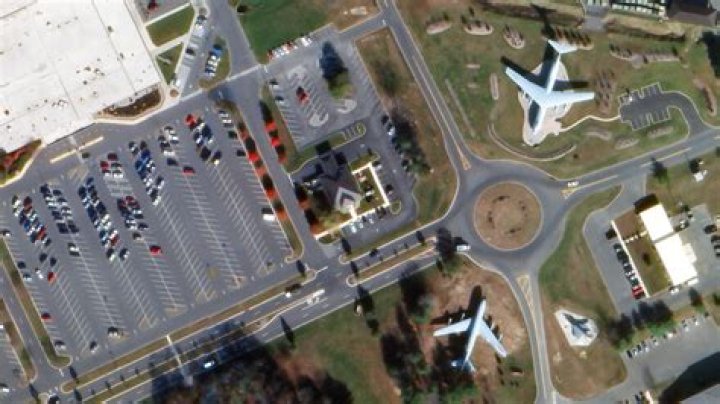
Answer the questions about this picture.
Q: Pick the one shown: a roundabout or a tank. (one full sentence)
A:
It is a roundabout that can be seen here.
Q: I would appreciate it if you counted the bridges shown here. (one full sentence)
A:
There are no bridges in the image.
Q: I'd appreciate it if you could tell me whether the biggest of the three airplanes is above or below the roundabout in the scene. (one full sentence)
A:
Looking at the photo, you'll find the biggest of the three airplanes above the roundabout.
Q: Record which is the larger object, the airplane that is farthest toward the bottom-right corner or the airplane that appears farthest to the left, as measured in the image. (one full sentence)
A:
The airplane that appears farthest to the left covers a greater area than the airplane that is farthest toward the bottom-right corner.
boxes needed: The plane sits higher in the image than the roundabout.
[507,37,598,138]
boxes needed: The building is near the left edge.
[0,0,160,155]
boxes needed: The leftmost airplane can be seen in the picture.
[434,300,508,374]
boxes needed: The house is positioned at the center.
[316,150,361,213]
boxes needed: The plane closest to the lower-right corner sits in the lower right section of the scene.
[563,314,594,339]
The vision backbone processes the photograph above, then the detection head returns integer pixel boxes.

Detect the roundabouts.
[453,162,562,271]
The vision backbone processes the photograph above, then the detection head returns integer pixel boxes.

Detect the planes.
[434,300,508,374]
[507,37,598,138]
[563,314,594,339]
